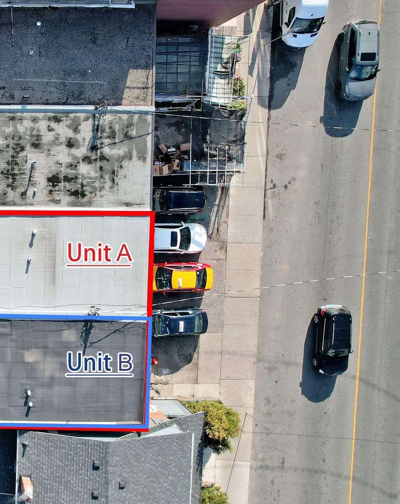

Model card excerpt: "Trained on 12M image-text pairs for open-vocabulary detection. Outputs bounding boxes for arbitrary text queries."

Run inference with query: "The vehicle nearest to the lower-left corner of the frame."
[149,305,208,341]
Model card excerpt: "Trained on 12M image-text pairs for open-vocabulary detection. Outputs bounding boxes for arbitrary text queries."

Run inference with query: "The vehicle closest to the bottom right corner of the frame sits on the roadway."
[309,302,354,374]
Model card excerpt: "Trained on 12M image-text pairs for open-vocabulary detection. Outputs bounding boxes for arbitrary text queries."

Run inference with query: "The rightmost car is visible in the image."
[334,21,383,102]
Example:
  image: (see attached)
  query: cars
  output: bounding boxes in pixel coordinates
[334,21,383,102]
[152,222,207,256]
[151,261,214,295]
[153,183,211,218]
[309,302,354,374]
[149,305,208,341]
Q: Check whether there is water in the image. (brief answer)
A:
No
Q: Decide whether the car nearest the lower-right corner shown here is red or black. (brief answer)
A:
black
